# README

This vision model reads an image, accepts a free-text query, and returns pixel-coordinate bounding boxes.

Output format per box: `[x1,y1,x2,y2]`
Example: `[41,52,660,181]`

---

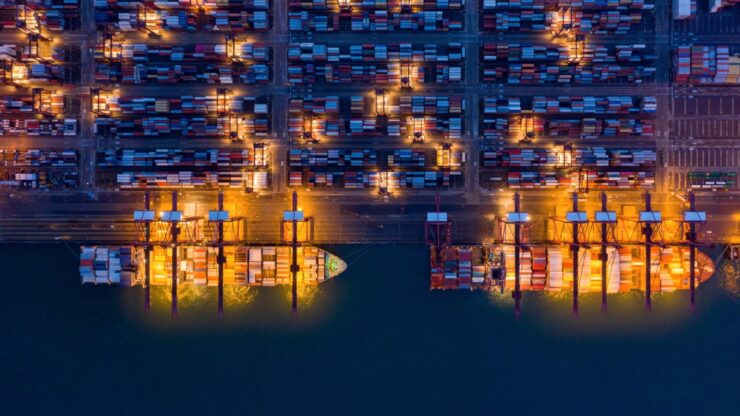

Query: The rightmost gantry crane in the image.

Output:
[651,190,713,318]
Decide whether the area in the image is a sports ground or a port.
port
